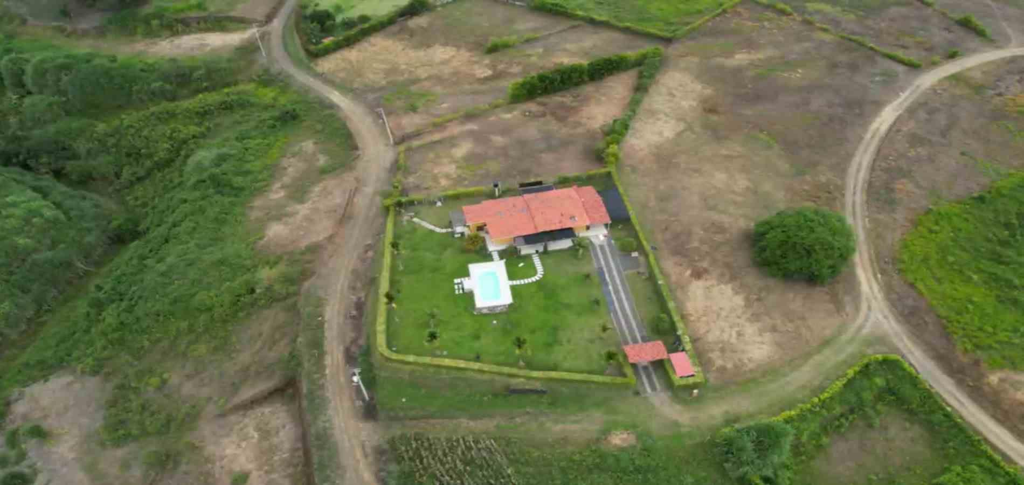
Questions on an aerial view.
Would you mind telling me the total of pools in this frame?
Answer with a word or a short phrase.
1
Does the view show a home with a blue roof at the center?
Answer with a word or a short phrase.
No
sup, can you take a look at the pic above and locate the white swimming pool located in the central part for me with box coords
[461,260,514,313]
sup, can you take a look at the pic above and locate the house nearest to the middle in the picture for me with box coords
[451,176,611,260]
